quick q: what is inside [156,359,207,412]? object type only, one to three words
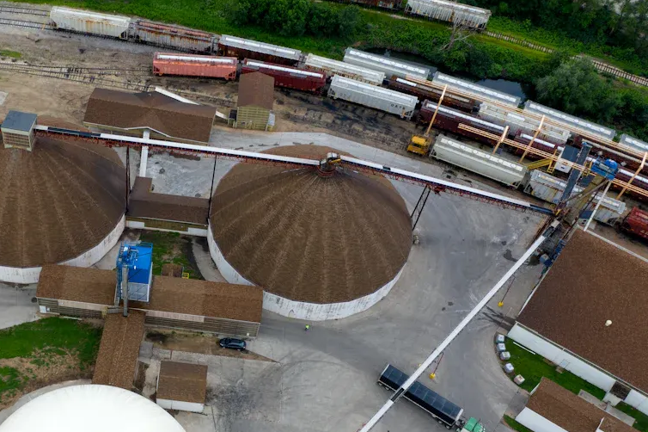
shed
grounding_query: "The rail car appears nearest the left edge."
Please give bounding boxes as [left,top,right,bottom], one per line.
[52,7,131,39]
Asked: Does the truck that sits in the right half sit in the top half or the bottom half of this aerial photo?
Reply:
bottom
